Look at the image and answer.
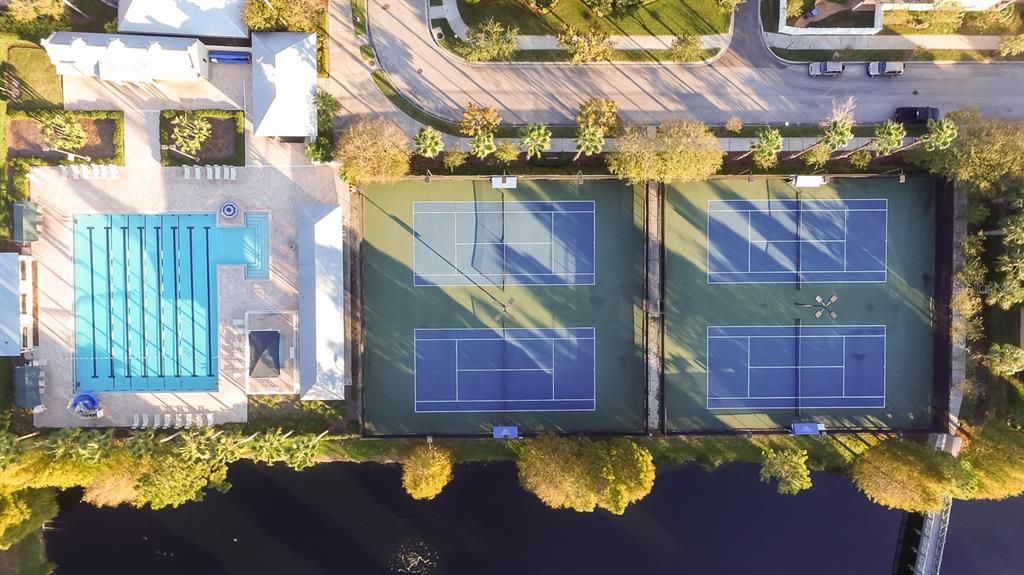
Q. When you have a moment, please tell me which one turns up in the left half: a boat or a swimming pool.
swimming pool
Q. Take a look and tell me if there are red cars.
No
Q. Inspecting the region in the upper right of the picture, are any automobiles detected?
Yes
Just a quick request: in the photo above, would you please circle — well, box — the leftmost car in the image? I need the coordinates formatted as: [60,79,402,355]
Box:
[808,59,844,78]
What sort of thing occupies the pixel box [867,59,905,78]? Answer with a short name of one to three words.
car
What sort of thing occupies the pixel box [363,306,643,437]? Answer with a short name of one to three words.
tennis court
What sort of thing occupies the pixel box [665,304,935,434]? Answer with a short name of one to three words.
tennis court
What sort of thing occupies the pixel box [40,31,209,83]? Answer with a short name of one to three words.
building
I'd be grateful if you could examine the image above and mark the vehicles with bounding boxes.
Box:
[867,59,905,78]
[895,105,942,124]
[808,59,844,78]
